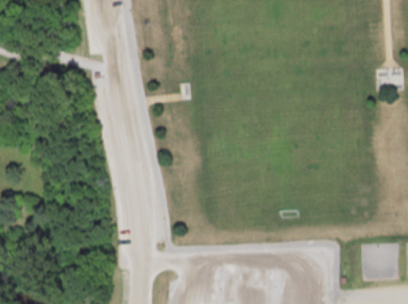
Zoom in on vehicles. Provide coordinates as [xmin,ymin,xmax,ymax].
[119,240,132,245]
[112,1,124,7]
[120,230,131,234]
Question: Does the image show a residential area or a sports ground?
sports ground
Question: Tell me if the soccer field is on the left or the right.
right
